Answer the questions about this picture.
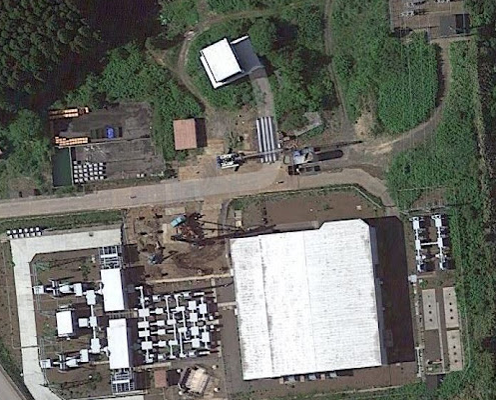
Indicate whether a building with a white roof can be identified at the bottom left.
Yes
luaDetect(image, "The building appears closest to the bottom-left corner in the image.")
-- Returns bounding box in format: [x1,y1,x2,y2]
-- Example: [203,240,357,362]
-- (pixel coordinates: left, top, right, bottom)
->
[56,305,75,340]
